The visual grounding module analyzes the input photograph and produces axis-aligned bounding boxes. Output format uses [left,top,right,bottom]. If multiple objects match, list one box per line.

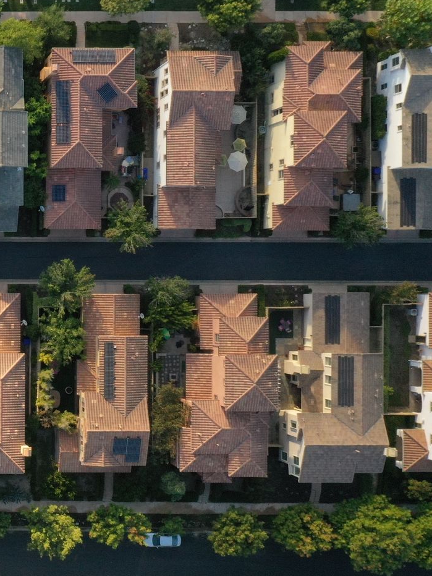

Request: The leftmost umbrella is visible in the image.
[122,155,137,169]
